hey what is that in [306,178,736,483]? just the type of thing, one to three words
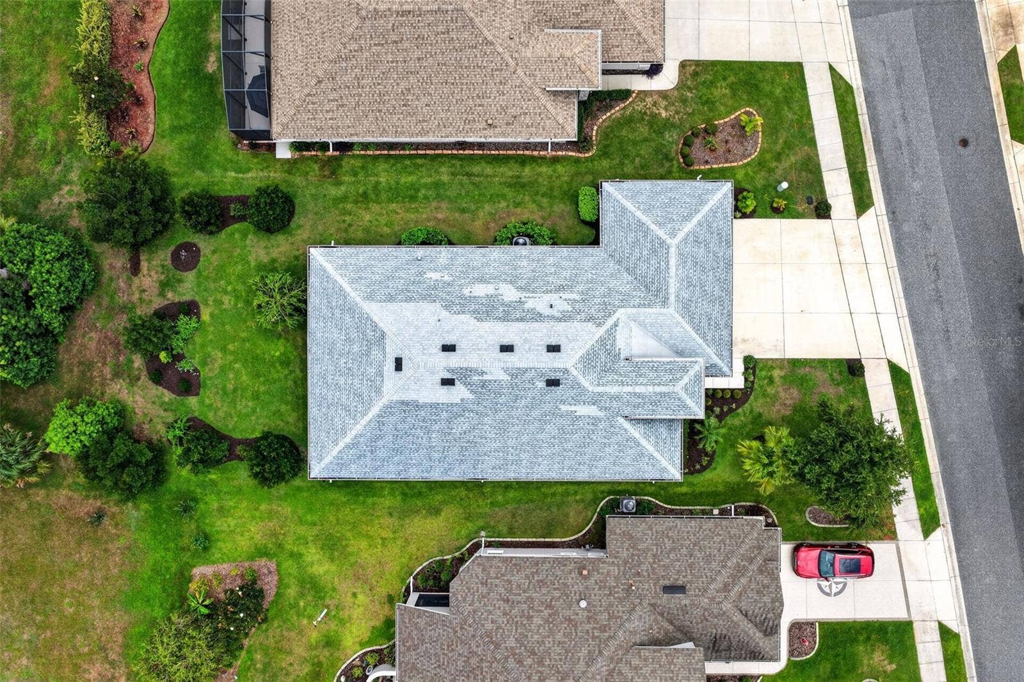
house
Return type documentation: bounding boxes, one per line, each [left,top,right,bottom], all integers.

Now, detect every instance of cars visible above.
[792,542,876,584]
